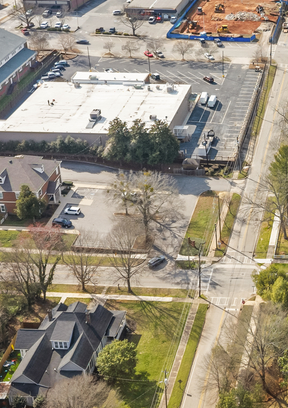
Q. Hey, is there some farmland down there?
No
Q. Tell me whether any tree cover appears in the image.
Yes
